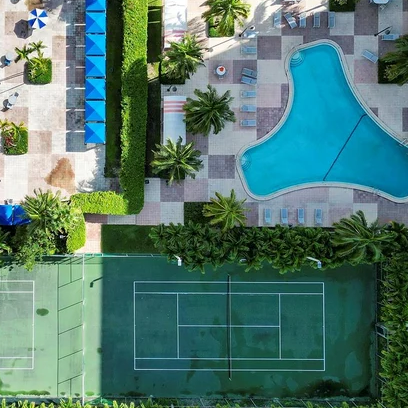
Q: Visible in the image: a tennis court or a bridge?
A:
tennis court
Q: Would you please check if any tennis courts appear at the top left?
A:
No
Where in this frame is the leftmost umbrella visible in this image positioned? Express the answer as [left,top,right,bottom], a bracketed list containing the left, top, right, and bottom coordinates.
[28,9,49,30]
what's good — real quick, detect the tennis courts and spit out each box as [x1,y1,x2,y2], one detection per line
[84,254,377,398]
[0,254,84,398]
